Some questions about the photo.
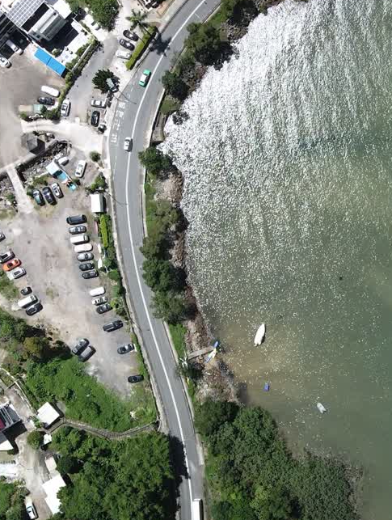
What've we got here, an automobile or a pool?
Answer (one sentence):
I can see an automobile in this picture.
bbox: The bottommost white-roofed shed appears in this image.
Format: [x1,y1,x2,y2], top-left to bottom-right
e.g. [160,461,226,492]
[42,472,69,515]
